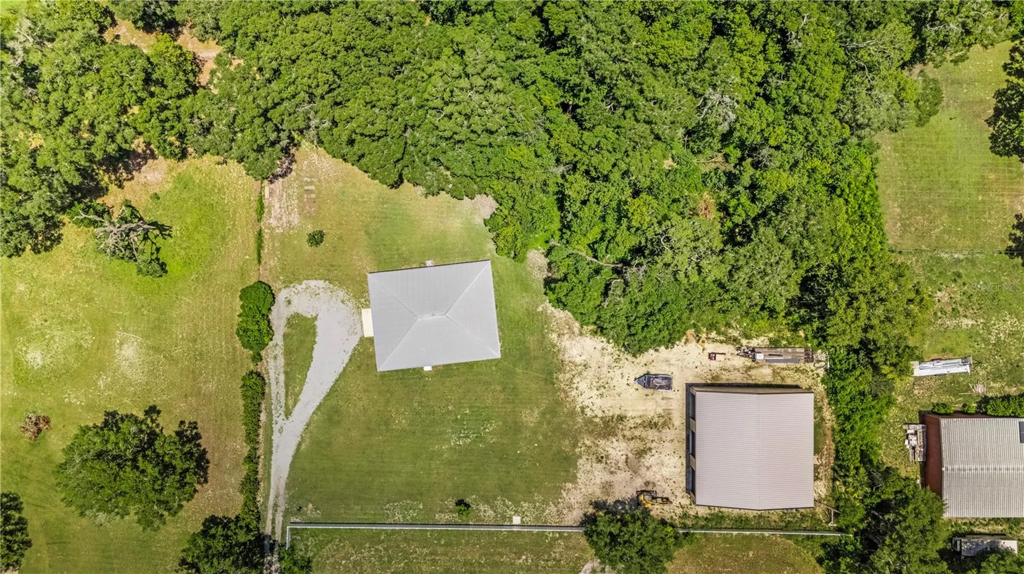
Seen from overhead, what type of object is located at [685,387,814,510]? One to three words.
building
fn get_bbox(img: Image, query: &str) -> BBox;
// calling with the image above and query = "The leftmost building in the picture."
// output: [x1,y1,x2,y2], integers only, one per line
[368,260,501,372]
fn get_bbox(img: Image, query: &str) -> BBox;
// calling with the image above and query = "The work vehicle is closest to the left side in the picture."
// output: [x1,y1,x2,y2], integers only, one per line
[637,491,671,507]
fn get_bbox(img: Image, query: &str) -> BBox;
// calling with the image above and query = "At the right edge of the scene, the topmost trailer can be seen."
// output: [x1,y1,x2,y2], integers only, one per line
[914,357,984,376]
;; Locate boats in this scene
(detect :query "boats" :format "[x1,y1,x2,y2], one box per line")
[635,375,672,391]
